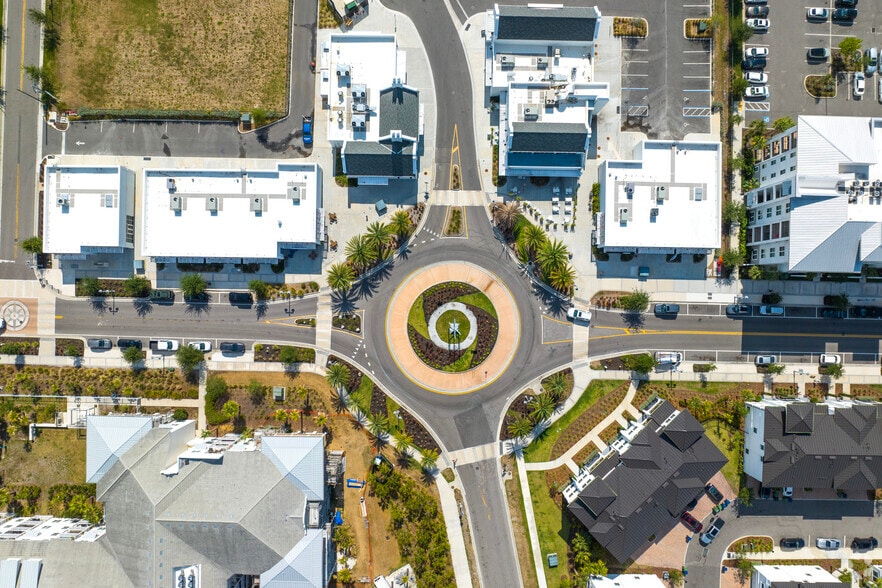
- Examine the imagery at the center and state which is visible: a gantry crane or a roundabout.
roundabout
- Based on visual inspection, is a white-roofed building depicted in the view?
Yes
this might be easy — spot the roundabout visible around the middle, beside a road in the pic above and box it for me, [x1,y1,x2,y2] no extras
[361,236,545,421]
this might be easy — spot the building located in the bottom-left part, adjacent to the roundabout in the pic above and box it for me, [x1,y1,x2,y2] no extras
[0,405,334,588]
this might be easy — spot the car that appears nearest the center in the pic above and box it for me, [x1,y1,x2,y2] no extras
[566,308,591,320]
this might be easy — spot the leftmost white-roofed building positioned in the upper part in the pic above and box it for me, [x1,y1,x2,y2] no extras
[42,166,136,260]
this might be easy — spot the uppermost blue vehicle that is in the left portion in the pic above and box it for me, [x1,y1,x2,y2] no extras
[301,115,314,145]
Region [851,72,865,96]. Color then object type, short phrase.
white vehicle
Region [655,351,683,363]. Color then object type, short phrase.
white vehicle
